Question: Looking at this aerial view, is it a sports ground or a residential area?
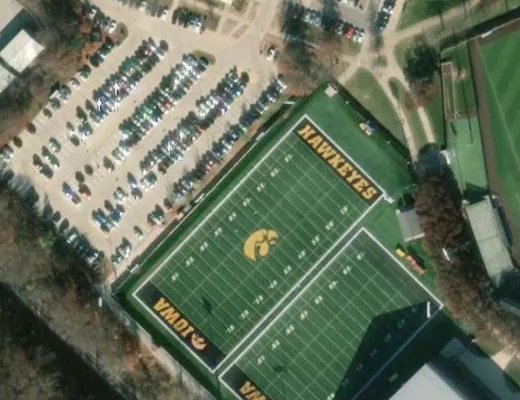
sports ground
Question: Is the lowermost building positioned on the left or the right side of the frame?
right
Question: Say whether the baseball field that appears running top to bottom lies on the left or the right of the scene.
right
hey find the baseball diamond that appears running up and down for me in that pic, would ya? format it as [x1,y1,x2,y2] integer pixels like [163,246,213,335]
[471,19,520,294]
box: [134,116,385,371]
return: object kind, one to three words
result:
sports field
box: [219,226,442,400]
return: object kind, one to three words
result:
sports field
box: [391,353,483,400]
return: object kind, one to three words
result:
building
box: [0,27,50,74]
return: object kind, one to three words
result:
building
